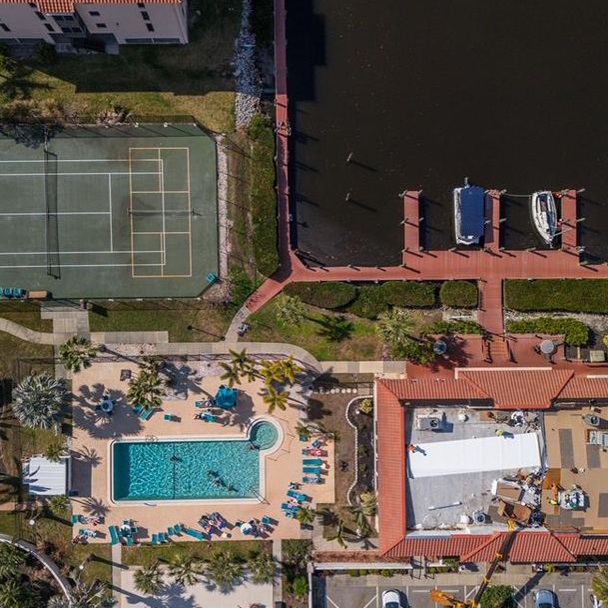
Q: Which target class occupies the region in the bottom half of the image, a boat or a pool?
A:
pool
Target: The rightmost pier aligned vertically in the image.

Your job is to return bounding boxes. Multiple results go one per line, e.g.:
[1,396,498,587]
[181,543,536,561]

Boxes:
[555,188,585,251]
